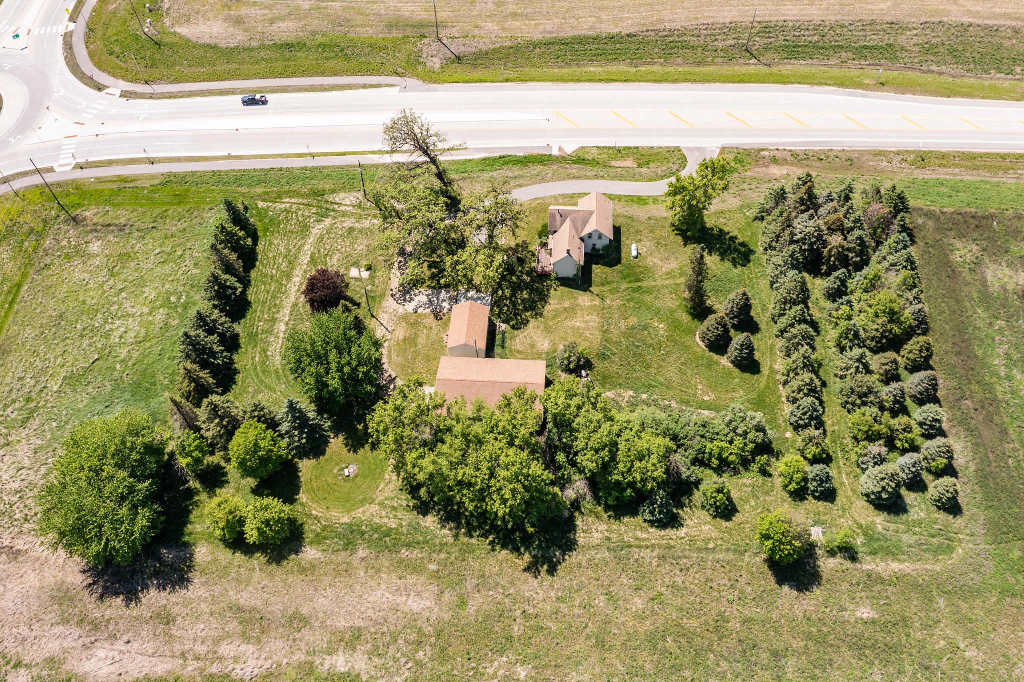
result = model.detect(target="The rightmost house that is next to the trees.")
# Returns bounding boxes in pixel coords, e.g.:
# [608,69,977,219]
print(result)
[533,190,613,282]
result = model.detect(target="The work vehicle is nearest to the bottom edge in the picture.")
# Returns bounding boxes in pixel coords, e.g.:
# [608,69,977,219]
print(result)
[577,363,593,382]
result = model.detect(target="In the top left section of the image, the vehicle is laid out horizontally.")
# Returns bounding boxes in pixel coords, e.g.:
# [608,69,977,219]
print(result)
[240,94,269,106]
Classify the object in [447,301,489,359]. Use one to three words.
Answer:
building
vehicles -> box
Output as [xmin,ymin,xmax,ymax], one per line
[577,363,593,382]
[240,94,269,106]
